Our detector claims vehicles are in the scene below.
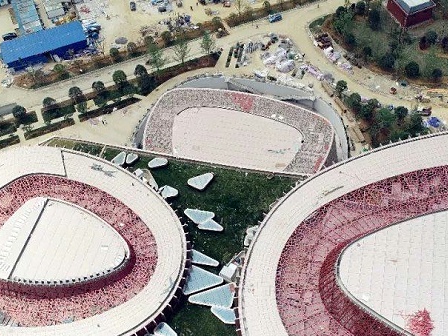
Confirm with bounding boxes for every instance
[156,5,170,13]
[2,32,18,41]
[131,2,137,11]
[220,1,233,8]
[196,0,210,5]
[267,13,284,22]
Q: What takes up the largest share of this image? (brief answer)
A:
buildings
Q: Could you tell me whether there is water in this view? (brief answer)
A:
No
